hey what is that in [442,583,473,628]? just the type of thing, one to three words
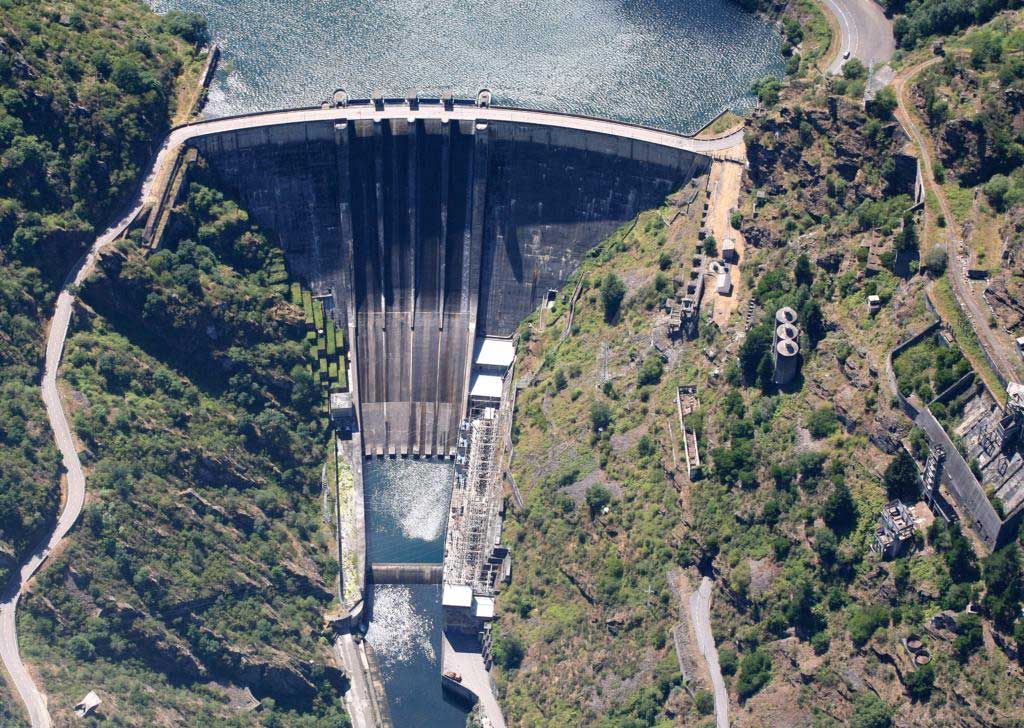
building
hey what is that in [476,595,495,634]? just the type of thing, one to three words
building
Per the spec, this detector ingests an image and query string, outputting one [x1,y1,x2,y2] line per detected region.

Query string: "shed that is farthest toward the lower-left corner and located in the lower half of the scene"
[80,691,103,718]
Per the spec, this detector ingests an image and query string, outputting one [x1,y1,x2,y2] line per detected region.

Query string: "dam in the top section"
[178,90,703,459]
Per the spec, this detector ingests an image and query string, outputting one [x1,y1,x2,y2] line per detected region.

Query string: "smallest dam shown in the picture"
[366,563,445,589]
